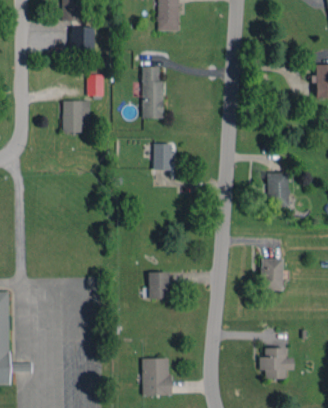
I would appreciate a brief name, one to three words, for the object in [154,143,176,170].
house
